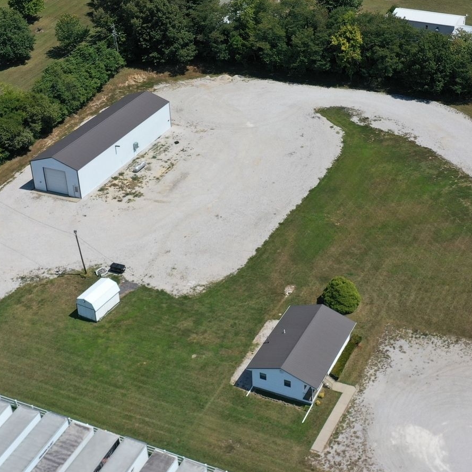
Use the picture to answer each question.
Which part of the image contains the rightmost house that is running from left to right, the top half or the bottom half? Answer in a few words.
top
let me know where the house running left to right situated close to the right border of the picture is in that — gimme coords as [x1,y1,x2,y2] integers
[395,10,468,36]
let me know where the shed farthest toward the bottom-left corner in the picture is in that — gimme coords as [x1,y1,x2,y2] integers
[76,282,120,322]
